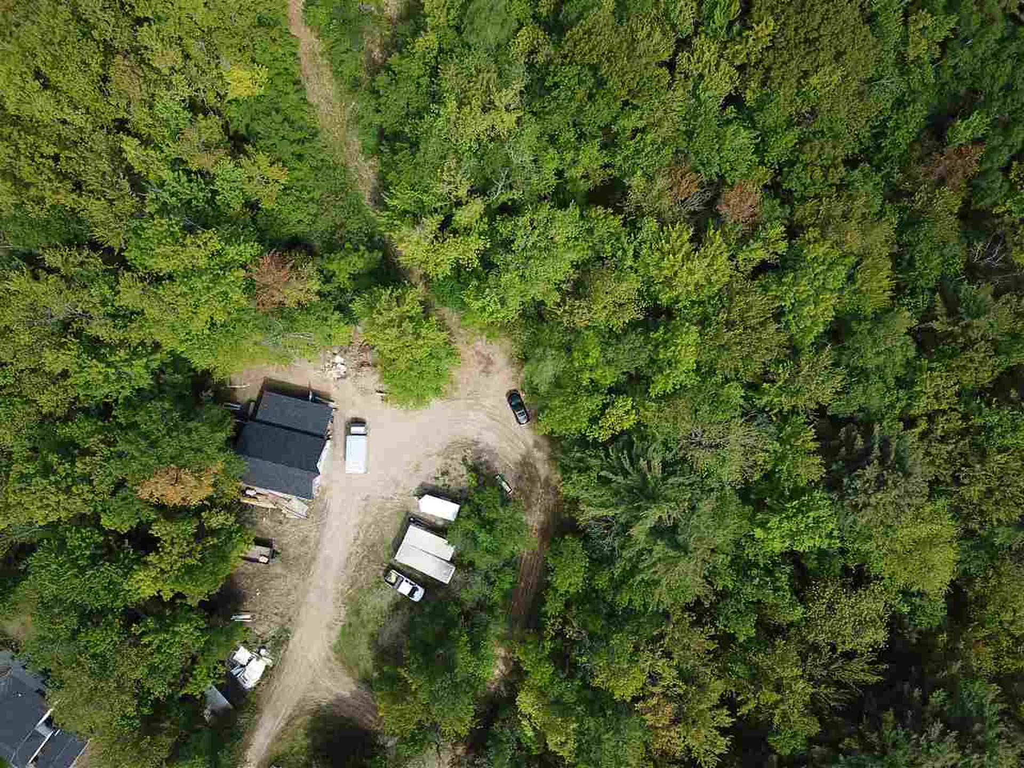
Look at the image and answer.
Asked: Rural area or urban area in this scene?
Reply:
rural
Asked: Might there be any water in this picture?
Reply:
No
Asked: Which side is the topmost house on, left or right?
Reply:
left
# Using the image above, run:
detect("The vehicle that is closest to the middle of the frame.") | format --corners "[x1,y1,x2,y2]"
[506,389,531,427]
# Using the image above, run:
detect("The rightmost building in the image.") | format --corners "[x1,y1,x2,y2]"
[229,394,337,499]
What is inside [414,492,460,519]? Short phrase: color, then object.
white trailer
